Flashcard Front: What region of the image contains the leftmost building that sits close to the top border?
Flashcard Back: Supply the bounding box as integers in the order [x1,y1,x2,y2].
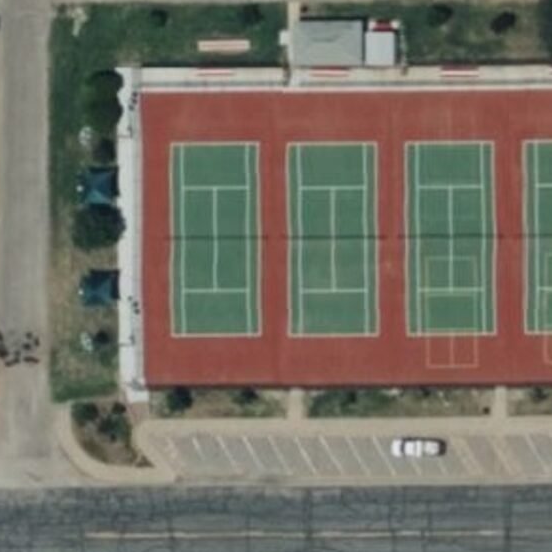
[292,20,366,66]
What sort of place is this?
sports ground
